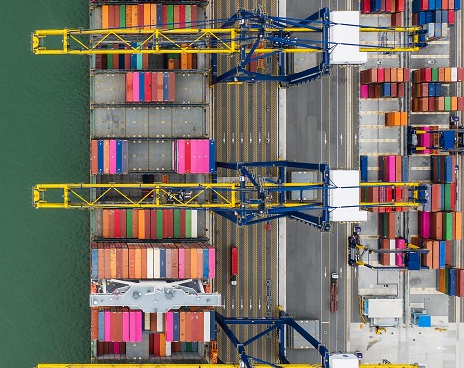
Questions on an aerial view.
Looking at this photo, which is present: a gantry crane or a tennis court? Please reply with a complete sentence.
Looking from above, you can make out a gantry crane.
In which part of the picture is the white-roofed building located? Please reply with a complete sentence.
Look in the bottom right portion of the view to spot the white-roofed building.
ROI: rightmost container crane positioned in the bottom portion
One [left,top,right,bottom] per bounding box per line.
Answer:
[352,237,432,272]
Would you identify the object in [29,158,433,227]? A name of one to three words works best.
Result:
container crane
